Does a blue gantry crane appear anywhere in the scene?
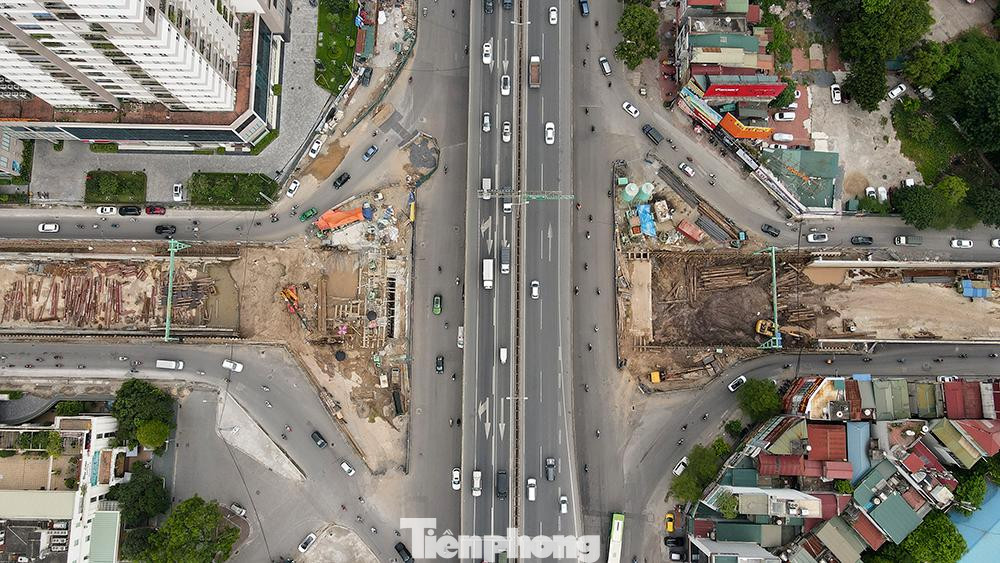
No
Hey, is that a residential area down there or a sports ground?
residential area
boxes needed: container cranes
[746,245,785,342]
[165,238,202,341]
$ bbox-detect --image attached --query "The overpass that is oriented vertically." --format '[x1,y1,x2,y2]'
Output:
[460,0,586,563]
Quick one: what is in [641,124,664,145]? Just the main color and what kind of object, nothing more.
gray truck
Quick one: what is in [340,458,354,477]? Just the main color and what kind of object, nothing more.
white car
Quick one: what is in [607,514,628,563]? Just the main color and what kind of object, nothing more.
white bus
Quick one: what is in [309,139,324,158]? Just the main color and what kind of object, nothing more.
white car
